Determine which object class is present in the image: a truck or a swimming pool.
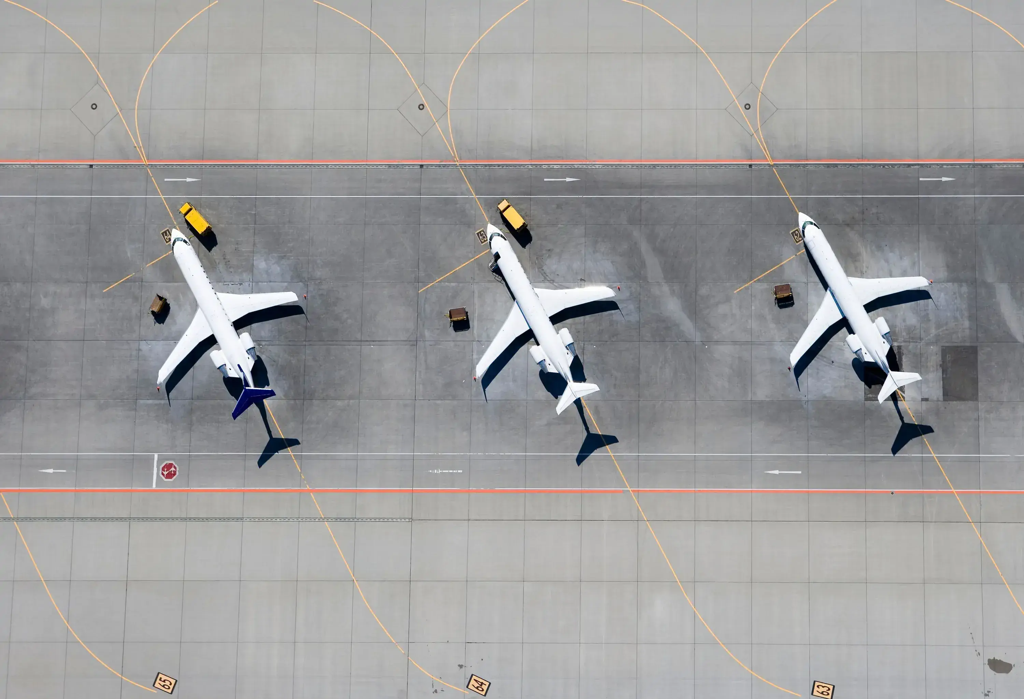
truck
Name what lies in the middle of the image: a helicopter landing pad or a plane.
plane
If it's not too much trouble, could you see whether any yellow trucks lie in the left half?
Yes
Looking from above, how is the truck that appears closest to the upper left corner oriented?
on a diagonal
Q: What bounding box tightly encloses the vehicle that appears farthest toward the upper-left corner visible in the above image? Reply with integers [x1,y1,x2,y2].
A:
[178,200,213,236]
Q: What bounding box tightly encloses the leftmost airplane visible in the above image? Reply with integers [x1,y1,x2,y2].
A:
[157,229,299,420]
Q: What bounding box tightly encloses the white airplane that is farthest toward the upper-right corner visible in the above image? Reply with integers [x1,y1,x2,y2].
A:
[790,212,932,404]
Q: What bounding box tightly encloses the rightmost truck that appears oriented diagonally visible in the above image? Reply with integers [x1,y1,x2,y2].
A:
[496,197,527,231]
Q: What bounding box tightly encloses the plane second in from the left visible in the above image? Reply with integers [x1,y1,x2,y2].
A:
[475,224,617,415]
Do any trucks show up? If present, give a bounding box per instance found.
[496,197,527,231]
[178,200,213,236]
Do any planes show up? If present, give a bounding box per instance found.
[475,224,617,415]
[790,212,932,404]
[157,229,299,420]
